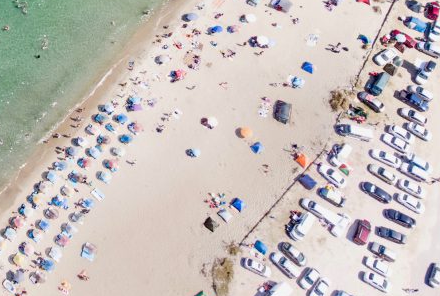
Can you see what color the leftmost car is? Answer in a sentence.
In this view, the leftmost car is white.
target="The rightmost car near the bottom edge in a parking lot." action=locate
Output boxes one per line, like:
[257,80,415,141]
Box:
[423,259,440,290]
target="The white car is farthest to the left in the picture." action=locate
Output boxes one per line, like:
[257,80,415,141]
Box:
[242,258,271,280]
